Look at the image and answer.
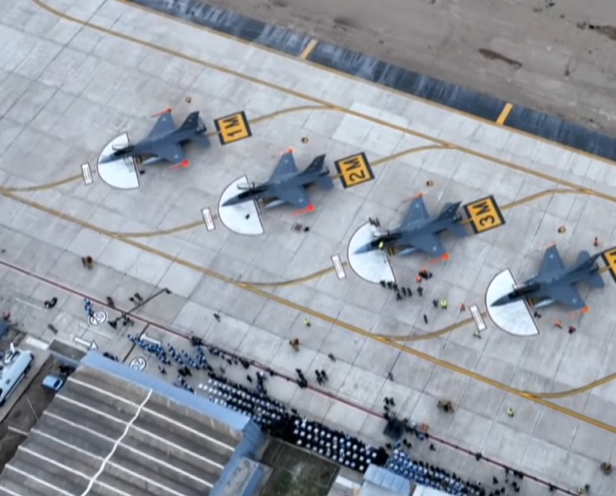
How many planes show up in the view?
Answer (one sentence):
The photo contains 4 planes.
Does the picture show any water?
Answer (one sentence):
No, the picture contains no water.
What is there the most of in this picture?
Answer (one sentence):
Most of the picture is covered by paved ground.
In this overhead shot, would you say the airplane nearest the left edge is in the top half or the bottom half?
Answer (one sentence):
You can find the airplane nearest the left edge in the top half.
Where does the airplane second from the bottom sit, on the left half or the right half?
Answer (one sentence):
It is on the right.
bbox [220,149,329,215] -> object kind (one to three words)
airplane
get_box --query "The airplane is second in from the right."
[351,194,463,265]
